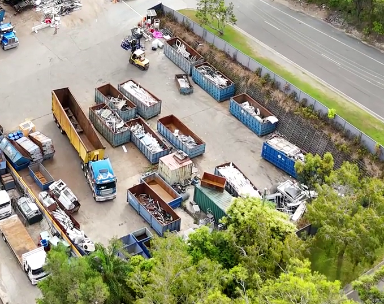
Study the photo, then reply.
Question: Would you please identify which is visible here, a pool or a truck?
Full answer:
The image shows a truck.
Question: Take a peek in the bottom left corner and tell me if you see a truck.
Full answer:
Yes, a truck is visible in the bottom left corner.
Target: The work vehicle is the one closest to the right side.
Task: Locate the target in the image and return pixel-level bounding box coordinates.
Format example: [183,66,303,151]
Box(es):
[129,39,155,71]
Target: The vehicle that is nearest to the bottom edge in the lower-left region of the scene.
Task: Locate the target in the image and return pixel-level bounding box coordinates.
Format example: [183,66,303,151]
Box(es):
[0,211,50,283]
